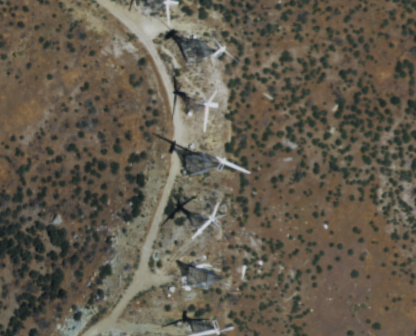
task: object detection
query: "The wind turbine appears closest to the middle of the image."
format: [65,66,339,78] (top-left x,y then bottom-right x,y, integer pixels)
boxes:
[184,152,248,177]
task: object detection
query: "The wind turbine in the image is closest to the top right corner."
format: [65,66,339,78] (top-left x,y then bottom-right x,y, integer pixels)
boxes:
[185,33,246,64]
